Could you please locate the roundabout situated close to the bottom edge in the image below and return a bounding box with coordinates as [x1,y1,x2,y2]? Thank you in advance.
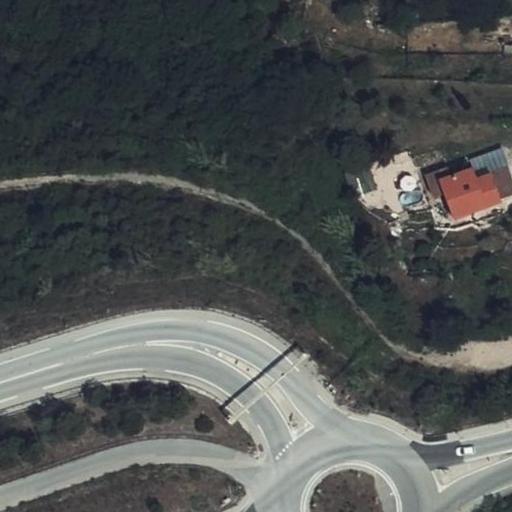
[224,378,450,512]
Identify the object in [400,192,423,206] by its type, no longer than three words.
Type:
swimming pool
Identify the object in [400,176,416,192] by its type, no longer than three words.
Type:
umbrella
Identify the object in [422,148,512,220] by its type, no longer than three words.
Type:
house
